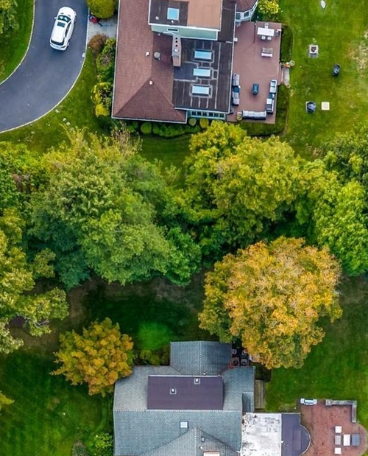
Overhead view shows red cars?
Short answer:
No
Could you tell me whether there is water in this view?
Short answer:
No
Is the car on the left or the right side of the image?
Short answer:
left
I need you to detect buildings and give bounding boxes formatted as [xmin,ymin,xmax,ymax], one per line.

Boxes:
[112,0,258,128]
[112,342,310,456]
